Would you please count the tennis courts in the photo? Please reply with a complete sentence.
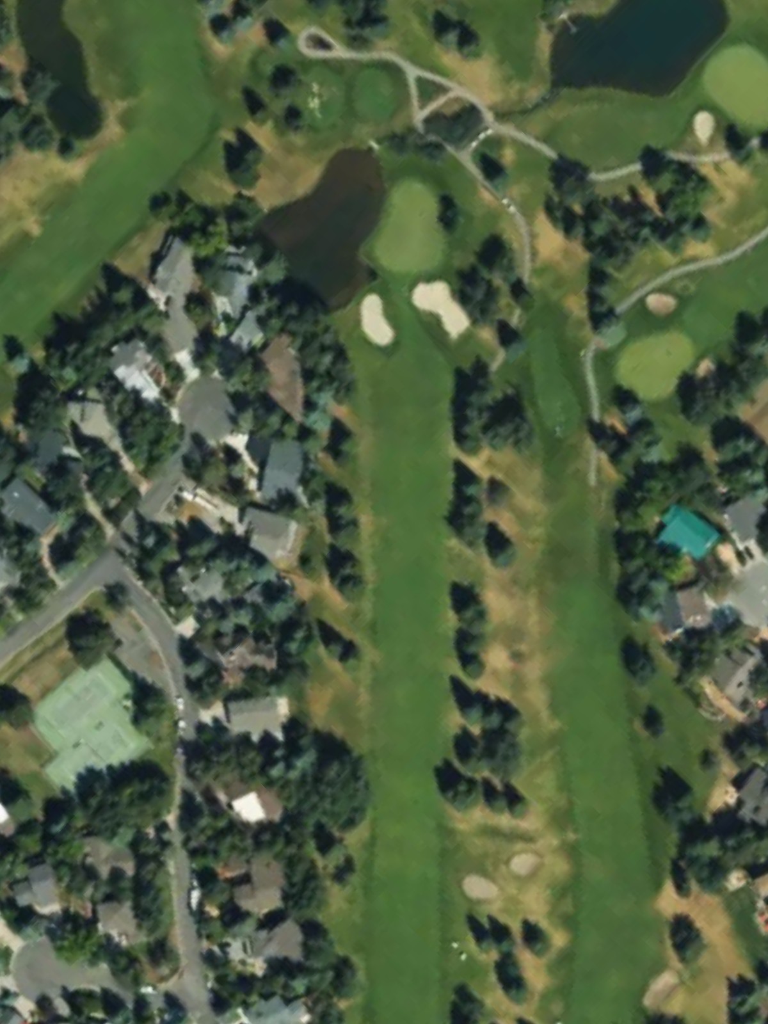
My tally gives 2 tennis courts in this view.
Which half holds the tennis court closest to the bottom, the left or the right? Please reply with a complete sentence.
The tennis court closest to the bottom sits on the left side.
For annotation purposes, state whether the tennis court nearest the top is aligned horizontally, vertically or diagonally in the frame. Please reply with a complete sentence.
The tennis court nearest the top runs diagonally in the image.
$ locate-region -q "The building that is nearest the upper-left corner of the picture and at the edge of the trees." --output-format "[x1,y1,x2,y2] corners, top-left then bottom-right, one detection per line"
[150,233,195,301]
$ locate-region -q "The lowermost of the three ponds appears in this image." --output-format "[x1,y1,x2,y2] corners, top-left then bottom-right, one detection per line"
[259,148,384,313]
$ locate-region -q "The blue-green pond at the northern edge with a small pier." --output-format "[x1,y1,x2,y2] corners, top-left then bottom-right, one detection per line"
[551,0,728,97]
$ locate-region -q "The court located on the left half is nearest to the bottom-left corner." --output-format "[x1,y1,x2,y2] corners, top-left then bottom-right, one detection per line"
[70,723,132,774]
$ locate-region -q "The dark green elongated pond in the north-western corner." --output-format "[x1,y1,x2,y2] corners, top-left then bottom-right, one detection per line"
[17,0,102,139]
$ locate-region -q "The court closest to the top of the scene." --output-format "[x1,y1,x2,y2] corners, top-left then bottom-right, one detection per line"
[50,673,111,731]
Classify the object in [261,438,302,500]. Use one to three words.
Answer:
house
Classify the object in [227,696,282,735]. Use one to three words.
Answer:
house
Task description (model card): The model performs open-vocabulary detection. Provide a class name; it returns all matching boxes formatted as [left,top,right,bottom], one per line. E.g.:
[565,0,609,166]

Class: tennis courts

[50,673,111,731]
[70,723,132,774]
